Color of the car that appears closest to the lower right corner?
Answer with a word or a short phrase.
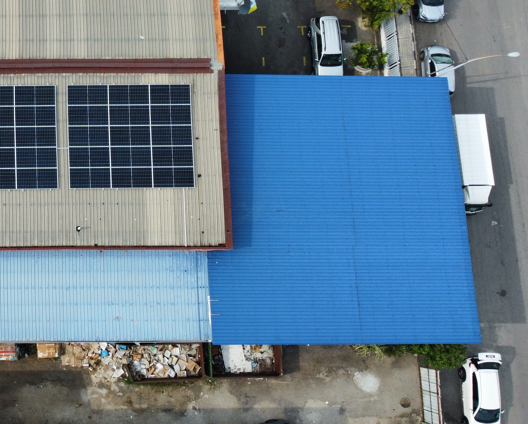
white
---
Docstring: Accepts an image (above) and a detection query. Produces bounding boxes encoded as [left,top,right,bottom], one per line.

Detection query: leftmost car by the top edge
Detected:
[311,20,352,75]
